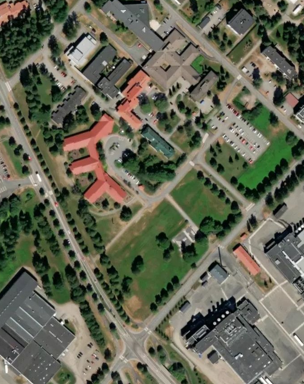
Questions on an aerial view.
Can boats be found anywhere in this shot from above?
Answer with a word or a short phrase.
No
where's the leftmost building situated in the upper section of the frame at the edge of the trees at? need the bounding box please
[0,0,20,24]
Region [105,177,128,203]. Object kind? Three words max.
building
